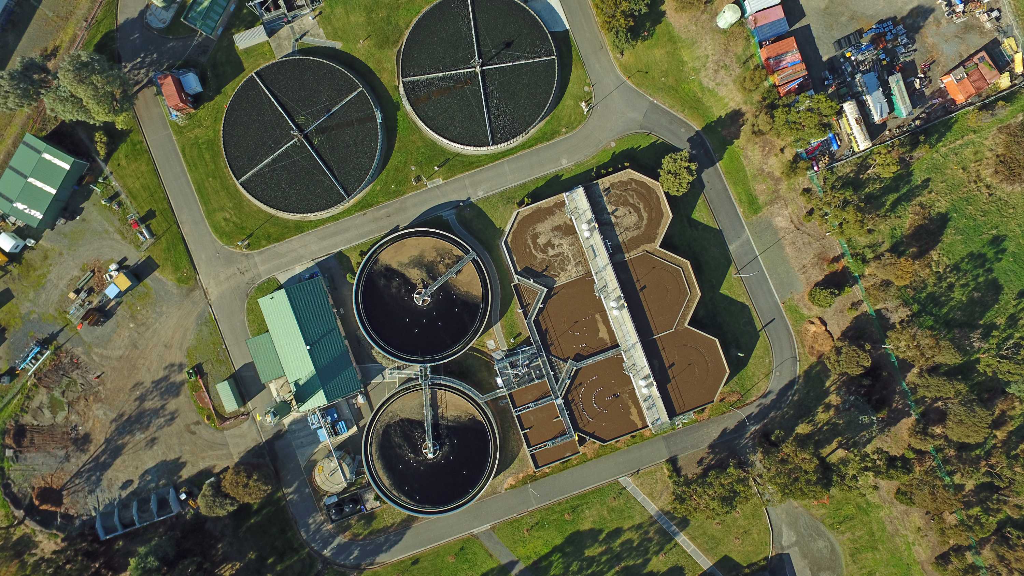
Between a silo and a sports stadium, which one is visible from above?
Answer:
silo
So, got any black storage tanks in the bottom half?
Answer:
Yes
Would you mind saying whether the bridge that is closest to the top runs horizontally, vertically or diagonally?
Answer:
diagonally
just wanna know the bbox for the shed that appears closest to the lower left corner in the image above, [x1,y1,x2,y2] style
[216,378,251,413]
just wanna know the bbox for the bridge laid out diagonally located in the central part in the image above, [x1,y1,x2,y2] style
[416,248,480,302]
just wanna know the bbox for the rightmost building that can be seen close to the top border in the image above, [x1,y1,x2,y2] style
[233,24,271,49]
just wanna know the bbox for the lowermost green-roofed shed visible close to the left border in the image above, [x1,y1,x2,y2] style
[0,133,105,230]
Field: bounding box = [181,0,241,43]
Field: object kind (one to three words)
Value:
building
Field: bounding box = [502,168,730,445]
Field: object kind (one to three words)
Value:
storage tank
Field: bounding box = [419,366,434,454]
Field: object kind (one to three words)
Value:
bridge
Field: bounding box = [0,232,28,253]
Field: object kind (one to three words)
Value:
camper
